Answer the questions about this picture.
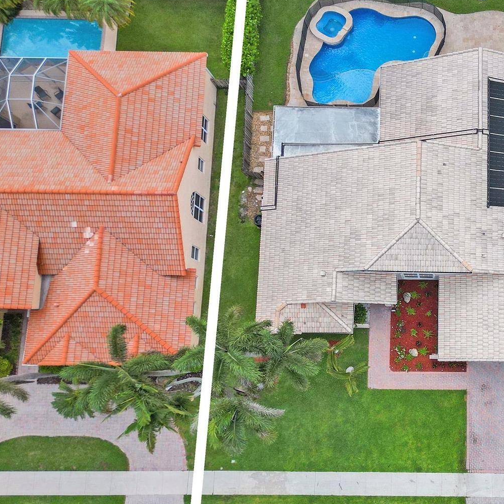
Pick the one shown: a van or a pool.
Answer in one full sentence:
Looking from above, you can make out a pool.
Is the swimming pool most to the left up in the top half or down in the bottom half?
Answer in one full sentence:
Seen from above, the swimming pool most to the left lies in the top half of the view.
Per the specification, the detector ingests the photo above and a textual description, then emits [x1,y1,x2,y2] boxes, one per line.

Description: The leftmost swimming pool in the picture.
[0,14,105,89]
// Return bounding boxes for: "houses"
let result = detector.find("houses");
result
[0,48,218,367]
[255,46,504,363]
